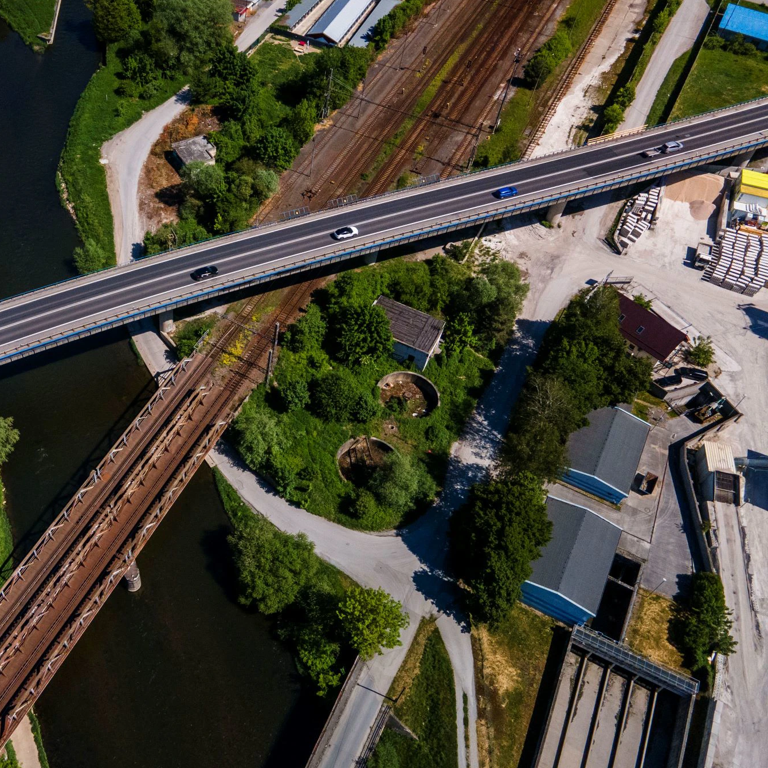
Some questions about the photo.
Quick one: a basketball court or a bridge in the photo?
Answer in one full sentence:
This aerial view contains a bridge.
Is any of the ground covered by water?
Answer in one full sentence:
Yes, the picture does contain water.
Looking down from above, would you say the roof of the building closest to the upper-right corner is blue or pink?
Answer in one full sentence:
The roof of the building closest to the upper-right corner looks blue in the image.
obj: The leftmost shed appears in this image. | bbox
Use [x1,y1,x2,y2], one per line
[172,134,216,177]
